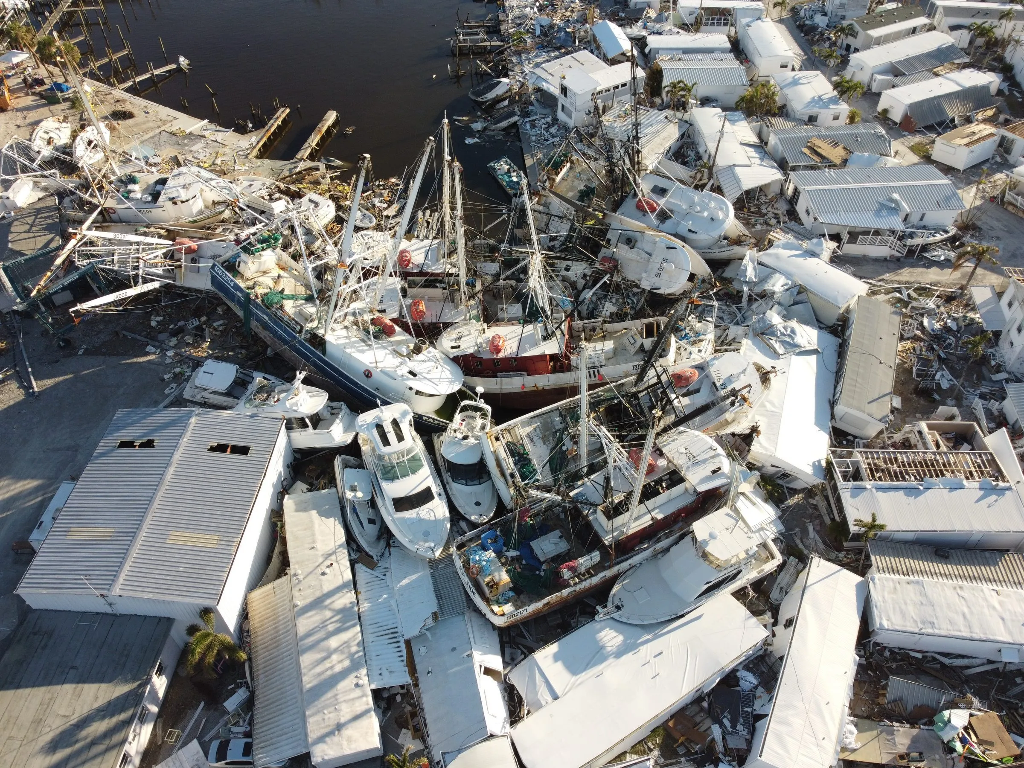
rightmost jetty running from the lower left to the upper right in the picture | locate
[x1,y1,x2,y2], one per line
[293,112,341,162]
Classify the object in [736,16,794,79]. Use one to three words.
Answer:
house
